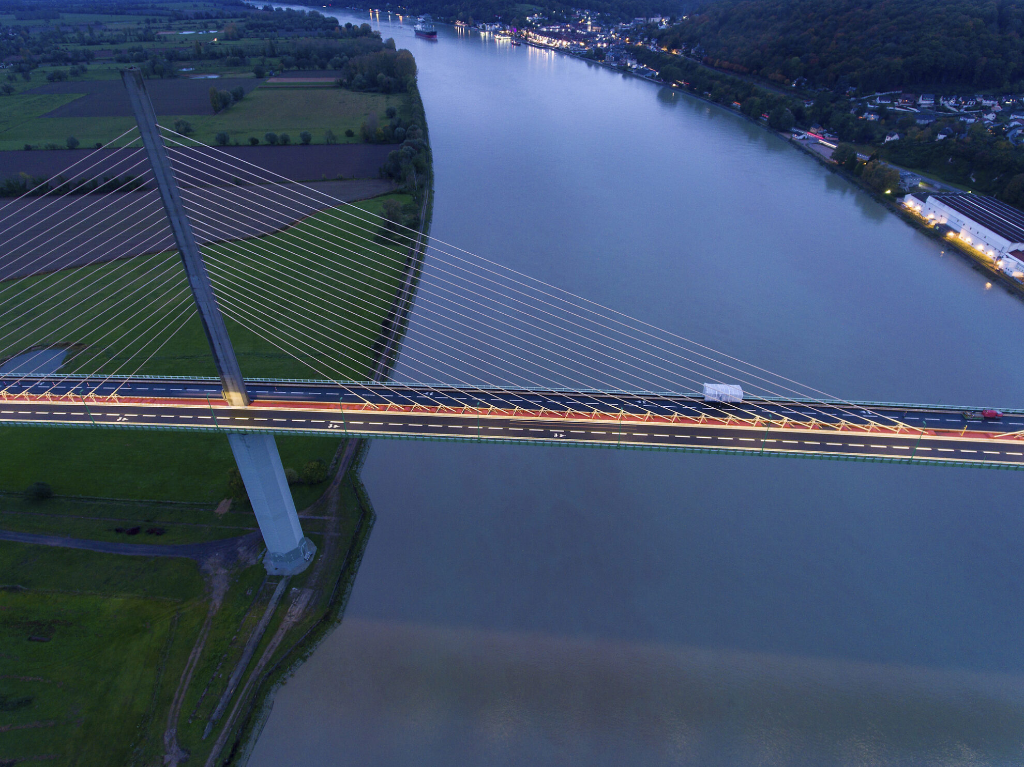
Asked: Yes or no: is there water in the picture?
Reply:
Yes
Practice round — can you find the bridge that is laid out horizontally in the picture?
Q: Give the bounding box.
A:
[0,68,1024,567]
